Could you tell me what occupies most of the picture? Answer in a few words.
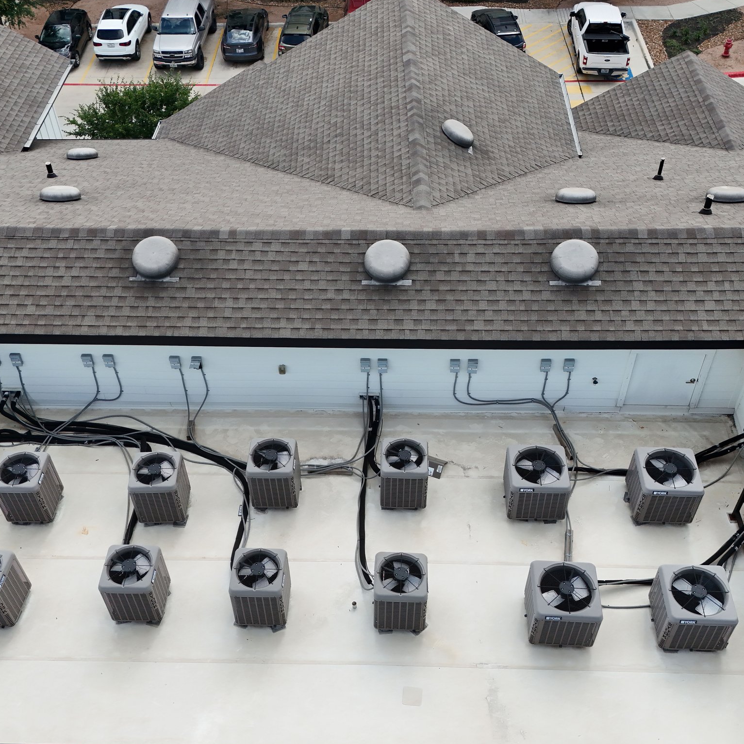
buildings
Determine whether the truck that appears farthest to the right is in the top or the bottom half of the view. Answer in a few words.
top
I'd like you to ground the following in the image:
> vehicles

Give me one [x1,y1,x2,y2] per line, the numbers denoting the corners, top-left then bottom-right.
[214,9,268,60]
[473,0,528,50]
[567,0,636,69]
[86,5,150,62]
[282,0,332,50]
[30,4,92,64]
[147,0,216,70]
